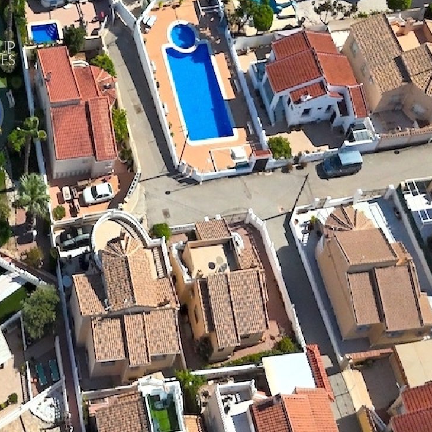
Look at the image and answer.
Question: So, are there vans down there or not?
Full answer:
Yes, the image includes a van.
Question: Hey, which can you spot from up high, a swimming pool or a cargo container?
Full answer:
Visible in the photo is a swimming pool.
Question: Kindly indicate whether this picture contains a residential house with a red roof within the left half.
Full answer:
Yes, a residential house with a red roof is visible within the left half.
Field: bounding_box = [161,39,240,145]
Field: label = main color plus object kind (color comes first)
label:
blue swimming pool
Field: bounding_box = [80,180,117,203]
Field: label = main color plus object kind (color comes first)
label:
white car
